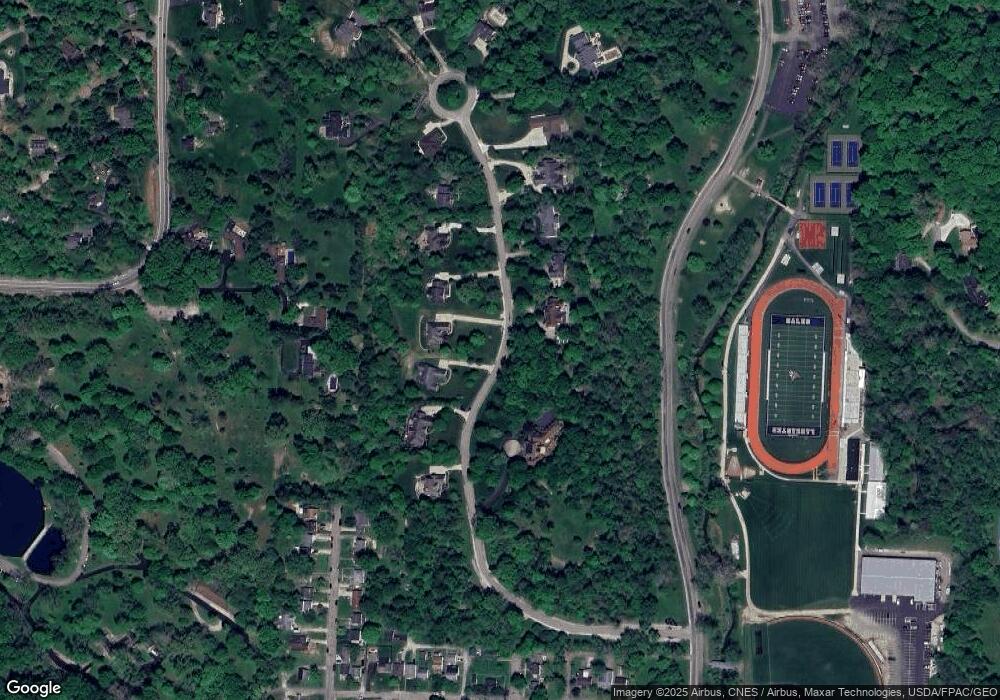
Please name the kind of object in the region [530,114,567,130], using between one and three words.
barn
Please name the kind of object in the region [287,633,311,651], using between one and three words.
house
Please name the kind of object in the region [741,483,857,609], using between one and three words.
sports field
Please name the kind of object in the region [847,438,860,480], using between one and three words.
building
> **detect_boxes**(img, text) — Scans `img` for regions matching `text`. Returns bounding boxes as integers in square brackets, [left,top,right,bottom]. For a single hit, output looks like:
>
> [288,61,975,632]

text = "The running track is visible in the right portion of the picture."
[747,278,847,474]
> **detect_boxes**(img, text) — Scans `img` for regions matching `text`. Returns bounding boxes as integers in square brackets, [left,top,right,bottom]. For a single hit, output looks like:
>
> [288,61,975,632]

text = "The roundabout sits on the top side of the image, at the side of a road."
[431,72,476,118]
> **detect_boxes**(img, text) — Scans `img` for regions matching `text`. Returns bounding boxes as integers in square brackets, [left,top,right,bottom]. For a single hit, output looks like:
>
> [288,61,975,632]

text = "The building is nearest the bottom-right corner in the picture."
[861,556,937,604]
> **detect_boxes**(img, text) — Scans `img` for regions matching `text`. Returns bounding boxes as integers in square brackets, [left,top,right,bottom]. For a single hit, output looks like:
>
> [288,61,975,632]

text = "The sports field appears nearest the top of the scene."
[758,289,833,460]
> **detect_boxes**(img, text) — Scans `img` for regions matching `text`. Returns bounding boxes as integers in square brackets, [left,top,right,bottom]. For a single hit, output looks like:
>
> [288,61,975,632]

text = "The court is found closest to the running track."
[798,219,826,249]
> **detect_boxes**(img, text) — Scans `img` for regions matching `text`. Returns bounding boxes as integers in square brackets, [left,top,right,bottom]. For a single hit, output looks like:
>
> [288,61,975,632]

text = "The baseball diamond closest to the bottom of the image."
[741,615,882,700]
